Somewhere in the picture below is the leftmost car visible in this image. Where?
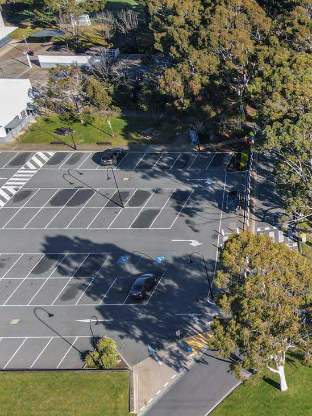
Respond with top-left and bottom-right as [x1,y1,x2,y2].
[100,146,126,164]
